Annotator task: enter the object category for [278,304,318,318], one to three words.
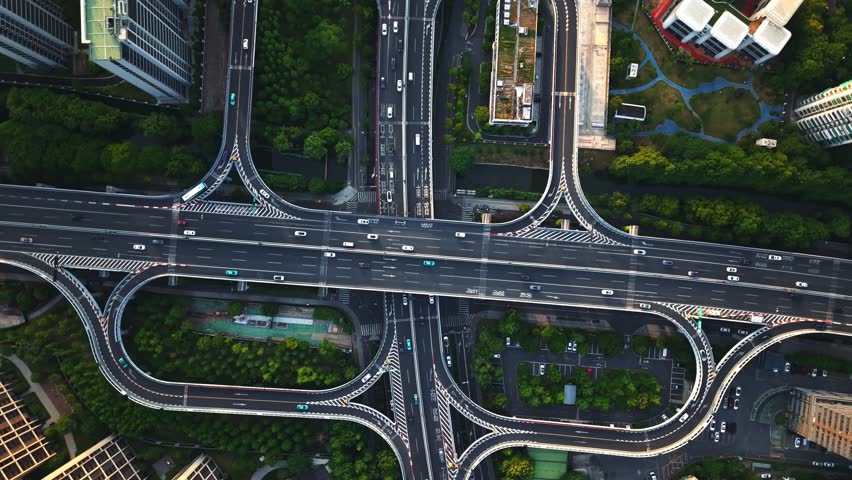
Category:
shed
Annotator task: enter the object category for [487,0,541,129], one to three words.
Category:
building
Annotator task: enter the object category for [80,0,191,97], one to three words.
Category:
building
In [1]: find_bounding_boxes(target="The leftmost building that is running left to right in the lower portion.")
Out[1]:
[31,432,143,480]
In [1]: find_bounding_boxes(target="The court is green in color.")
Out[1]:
[527,448,569,480]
